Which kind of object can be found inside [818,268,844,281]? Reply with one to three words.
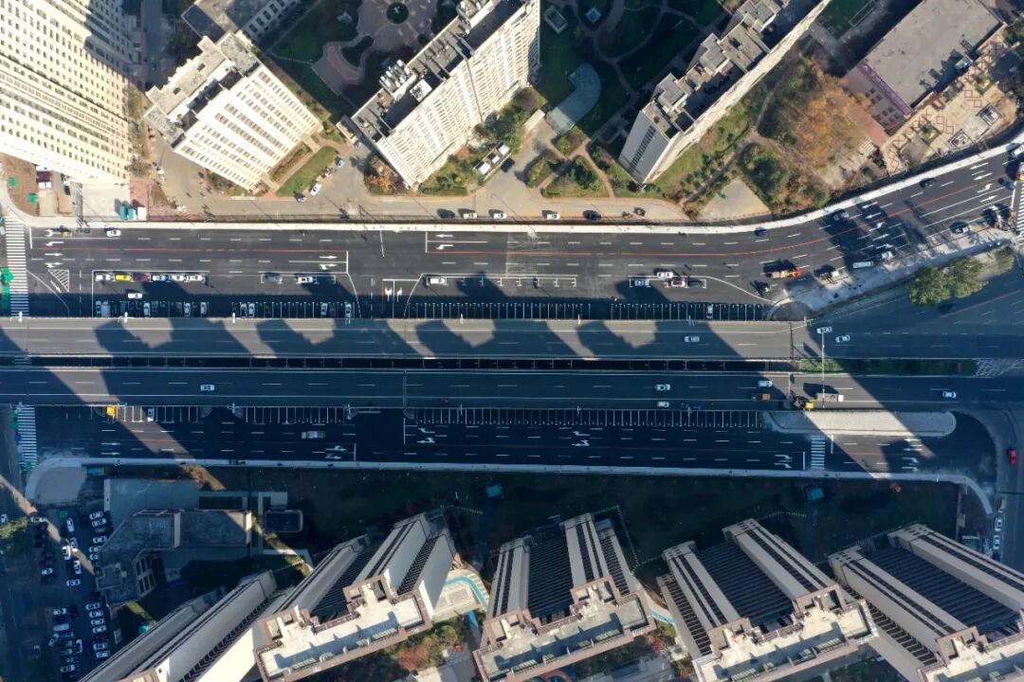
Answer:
vehicle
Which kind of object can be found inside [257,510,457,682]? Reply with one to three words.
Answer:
building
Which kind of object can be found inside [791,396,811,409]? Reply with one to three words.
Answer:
vehicle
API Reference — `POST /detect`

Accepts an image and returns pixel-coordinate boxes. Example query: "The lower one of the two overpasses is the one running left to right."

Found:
[0,367,792,410]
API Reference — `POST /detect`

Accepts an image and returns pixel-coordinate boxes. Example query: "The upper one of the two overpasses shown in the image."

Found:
[0,318,792,360]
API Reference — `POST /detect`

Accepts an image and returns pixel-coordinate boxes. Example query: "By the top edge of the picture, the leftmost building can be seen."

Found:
[0,0,139,178]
